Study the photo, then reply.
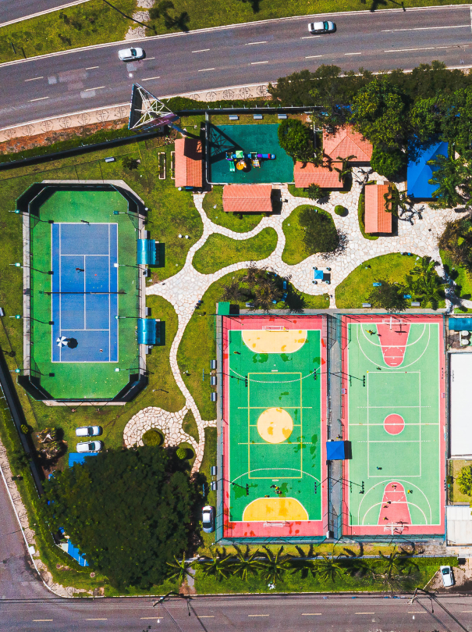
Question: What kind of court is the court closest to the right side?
basketball court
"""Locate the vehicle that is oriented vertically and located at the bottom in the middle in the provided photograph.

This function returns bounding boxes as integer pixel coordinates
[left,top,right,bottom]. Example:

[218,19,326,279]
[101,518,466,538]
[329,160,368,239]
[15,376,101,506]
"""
[201,506,214,532]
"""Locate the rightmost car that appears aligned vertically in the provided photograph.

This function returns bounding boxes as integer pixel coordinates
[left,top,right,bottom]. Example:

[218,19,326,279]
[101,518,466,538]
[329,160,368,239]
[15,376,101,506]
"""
[441,564,456,589]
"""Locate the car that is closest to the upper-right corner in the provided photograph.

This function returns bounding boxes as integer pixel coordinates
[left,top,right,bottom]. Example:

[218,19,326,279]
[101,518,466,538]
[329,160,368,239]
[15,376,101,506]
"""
[308,20,336,34]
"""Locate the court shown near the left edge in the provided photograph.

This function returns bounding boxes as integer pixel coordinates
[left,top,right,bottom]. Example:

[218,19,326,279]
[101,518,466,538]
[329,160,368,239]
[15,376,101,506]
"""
[23,179,146,406]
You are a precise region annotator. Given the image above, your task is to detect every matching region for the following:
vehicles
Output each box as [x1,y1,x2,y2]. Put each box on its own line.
[441,564,456,589]
[117,45,146,62]
[201,506,214,532]
[76,425,102,437]
[308,20,336,34]
[75,440,104,453]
